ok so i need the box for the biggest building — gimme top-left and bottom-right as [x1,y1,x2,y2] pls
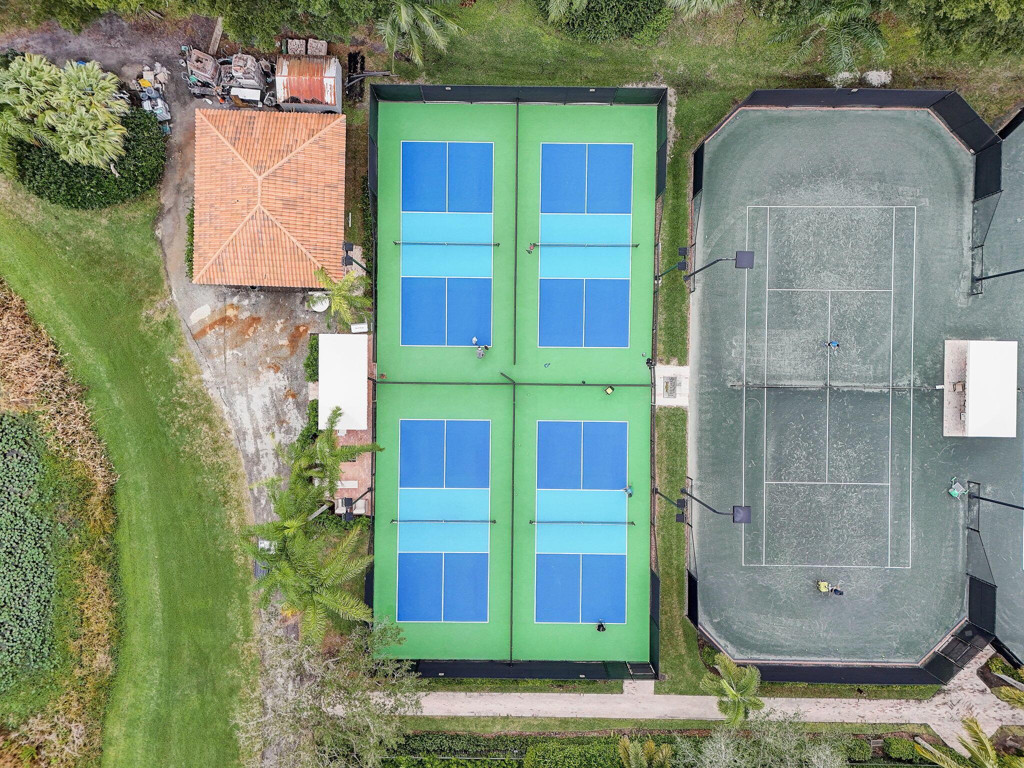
[189,106,349,290]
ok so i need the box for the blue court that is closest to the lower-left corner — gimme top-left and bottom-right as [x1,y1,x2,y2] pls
[396,418,492,624]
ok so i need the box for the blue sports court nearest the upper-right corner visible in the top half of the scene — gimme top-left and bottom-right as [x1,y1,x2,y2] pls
[538,143,634,348]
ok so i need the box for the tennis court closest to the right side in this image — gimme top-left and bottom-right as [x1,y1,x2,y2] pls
[966,127,1024,665]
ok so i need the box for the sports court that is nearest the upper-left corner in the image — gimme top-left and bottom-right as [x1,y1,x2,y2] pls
[399,141,495,346]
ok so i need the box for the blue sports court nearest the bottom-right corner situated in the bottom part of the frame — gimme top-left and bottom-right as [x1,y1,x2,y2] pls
[534,420,629,625]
